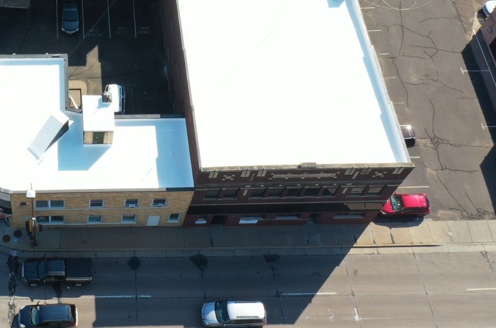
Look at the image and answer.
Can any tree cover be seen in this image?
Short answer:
No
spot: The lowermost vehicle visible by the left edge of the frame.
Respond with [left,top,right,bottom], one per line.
[15,300,81,328]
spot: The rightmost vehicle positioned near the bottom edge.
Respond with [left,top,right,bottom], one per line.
[199,298,271,328]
